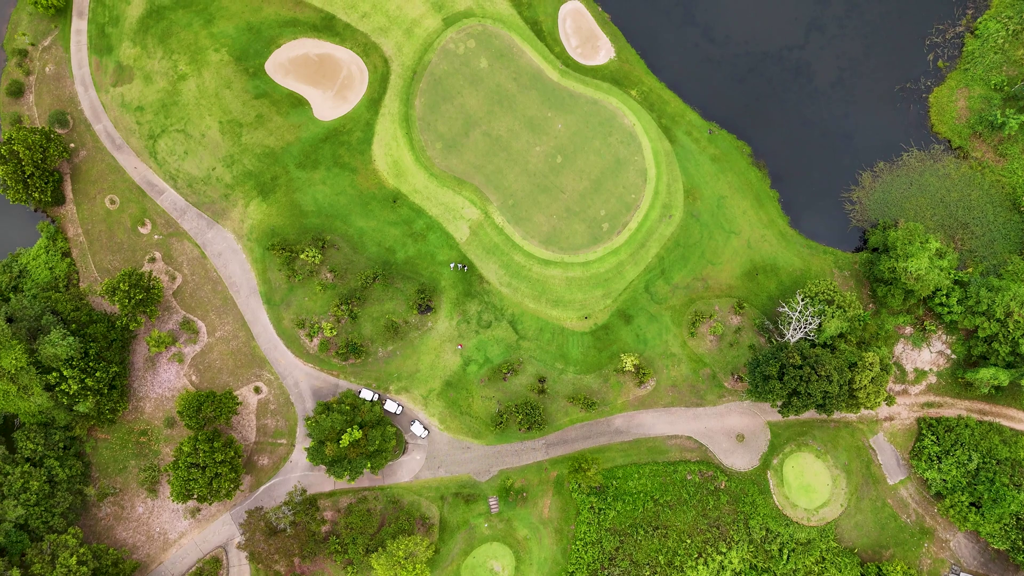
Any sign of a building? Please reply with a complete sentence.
No, the scene contains no building.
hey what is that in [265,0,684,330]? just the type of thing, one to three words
golf course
